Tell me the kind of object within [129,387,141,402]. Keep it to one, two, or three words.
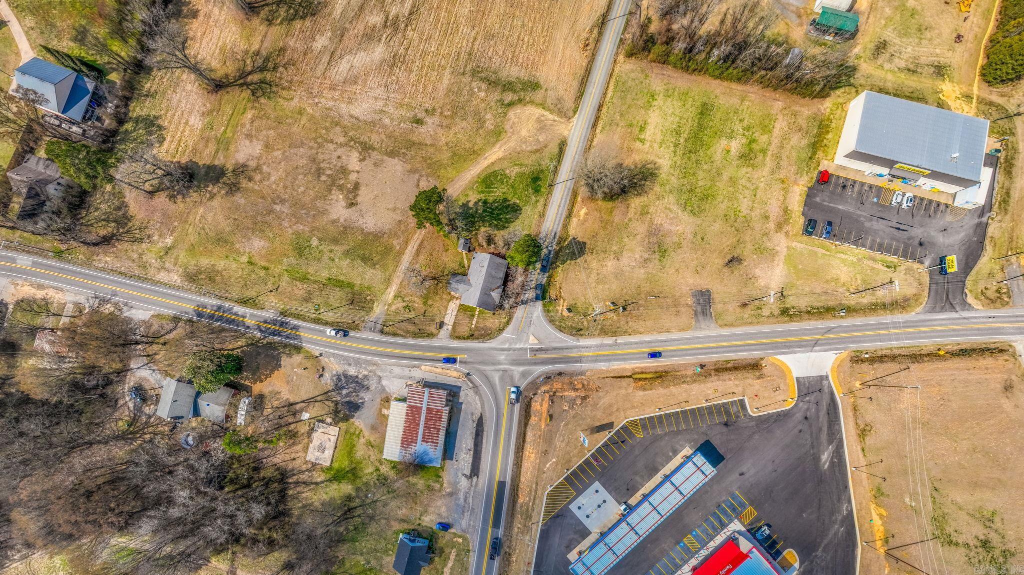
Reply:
vehicle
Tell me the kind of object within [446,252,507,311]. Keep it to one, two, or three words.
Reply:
house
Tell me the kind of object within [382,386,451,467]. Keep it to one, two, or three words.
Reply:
building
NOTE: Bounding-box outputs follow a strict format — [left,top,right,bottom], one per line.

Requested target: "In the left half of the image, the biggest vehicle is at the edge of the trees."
[237,393,256,425]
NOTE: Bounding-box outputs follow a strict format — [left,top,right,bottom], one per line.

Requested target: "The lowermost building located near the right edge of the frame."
[834,91,987,193]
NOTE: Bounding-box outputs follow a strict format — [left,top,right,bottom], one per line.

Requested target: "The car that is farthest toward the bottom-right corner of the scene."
[755,524,772,539]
